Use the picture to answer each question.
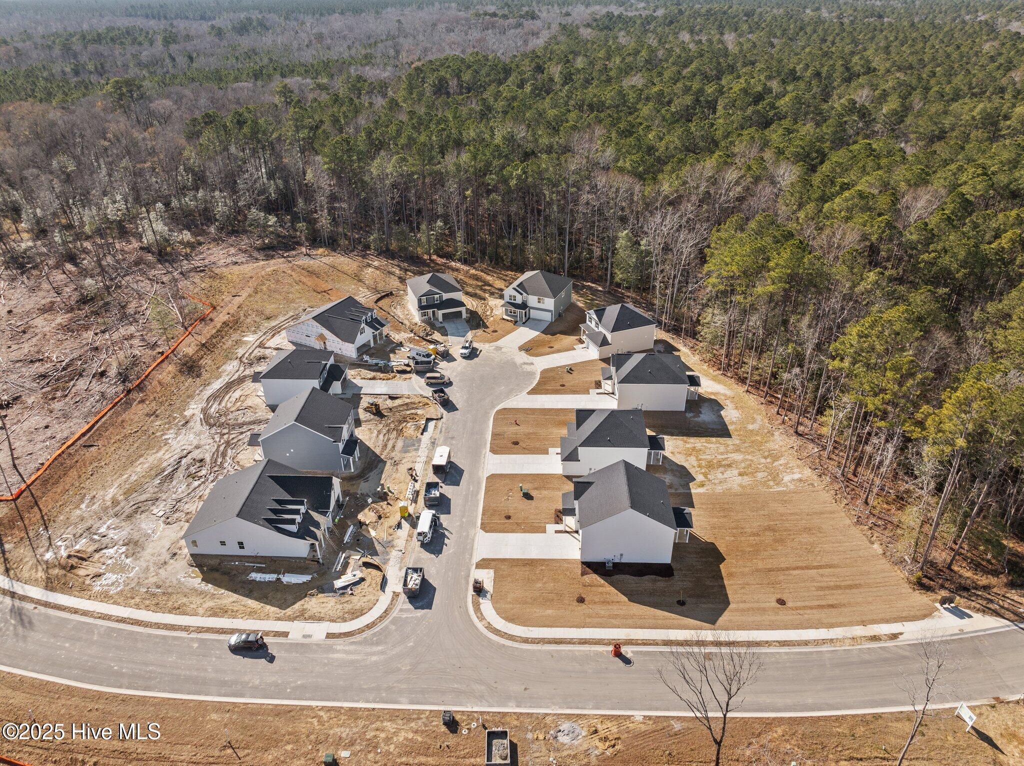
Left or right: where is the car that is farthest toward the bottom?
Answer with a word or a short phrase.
left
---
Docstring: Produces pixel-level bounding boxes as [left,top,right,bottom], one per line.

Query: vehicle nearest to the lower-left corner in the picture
[223,633,267,655]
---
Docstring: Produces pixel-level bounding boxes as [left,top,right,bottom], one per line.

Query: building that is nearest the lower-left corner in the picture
[182,461,345,557]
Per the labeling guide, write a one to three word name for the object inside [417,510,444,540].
vehicle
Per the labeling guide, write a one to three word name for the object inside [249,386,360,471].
house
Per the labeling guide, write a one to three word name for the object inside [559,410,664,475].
house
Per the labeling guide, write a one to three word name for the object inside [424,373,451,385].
vehicle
